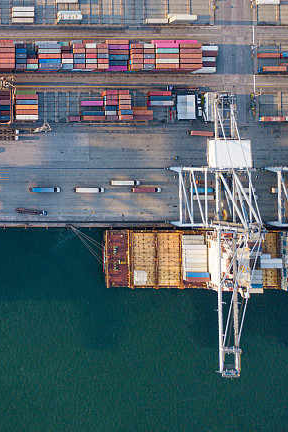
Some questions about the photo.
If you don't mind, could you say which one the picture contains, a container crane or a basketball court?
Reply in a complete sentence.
This aerial view contains a container crane.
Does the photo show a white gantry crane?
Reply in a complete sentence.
Yes, the picture does show a white gantry crane.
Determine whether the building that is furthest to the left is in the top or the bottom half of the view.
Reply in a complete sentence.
You can find the building that is furthest to the left in the top half.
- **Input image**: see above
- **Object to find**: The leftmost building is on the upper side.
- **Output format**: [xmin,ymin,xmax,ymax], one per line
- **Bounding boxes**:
[172,95,196,120]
